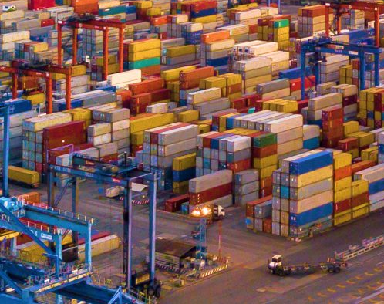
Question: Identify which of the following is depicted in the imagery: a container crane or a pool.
container crane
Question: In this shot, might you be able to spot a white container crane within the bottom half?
No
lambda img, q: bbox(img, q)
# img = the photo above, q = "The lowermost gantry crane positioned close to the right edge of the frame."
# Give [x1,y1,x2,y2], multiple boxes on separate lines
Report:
[298,38,384,99]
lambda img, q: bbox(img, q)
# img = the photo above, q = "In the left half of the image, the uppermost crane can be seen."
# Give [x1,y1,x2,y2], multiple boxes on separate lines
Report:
[55,14,133,82]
